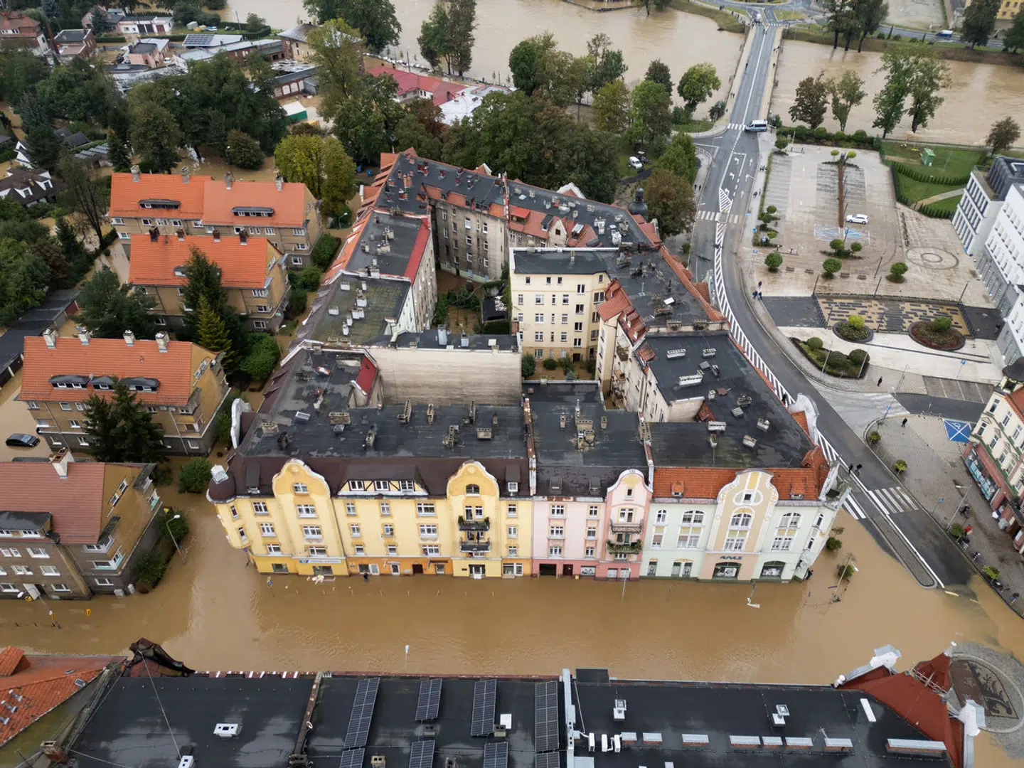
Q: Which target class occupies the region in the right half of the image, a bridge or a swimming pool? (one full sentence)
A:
There is a bridge in the right half of the image.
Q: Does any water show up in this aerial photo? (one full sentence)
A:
Yes, the picture does contain water.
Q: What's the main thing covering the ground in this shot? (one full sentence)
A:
The largest share of the image is taken up by buildings.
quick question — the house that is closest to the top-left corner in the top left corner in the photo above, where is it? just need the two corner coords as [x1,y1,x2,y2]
[0,8,47,55]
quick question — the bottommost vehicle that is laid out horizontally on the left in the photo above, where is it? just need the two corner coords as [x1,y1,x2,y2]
[2,434,41,448]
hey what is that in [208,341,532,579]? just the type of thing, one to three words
house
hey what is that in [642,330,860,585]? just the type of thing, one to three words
house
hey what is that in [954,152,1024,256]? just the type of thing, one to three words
building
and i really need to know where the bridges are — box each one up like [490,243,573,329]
[723,24,786,129]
